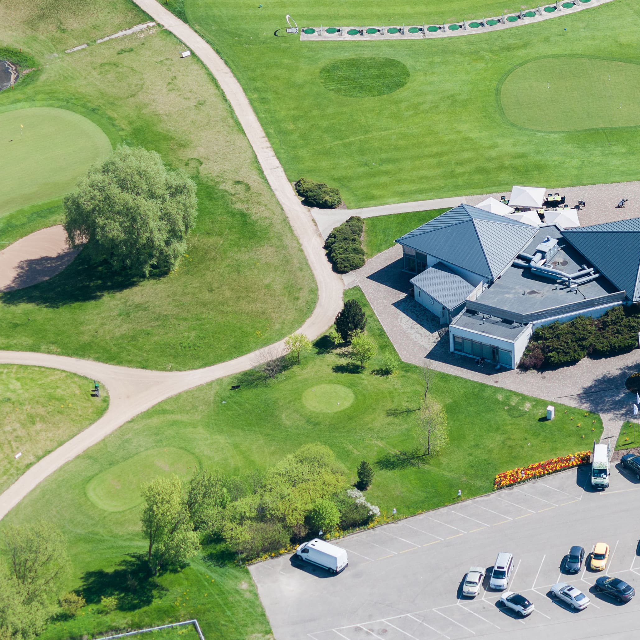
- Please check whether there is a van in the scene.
Yes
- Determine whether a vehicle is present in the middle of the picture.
No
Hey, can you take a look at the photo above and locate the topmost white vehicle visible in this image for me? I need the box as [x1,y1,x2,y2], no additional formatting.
[589,436,612,493]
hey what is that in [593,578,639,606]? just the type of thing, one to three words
car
